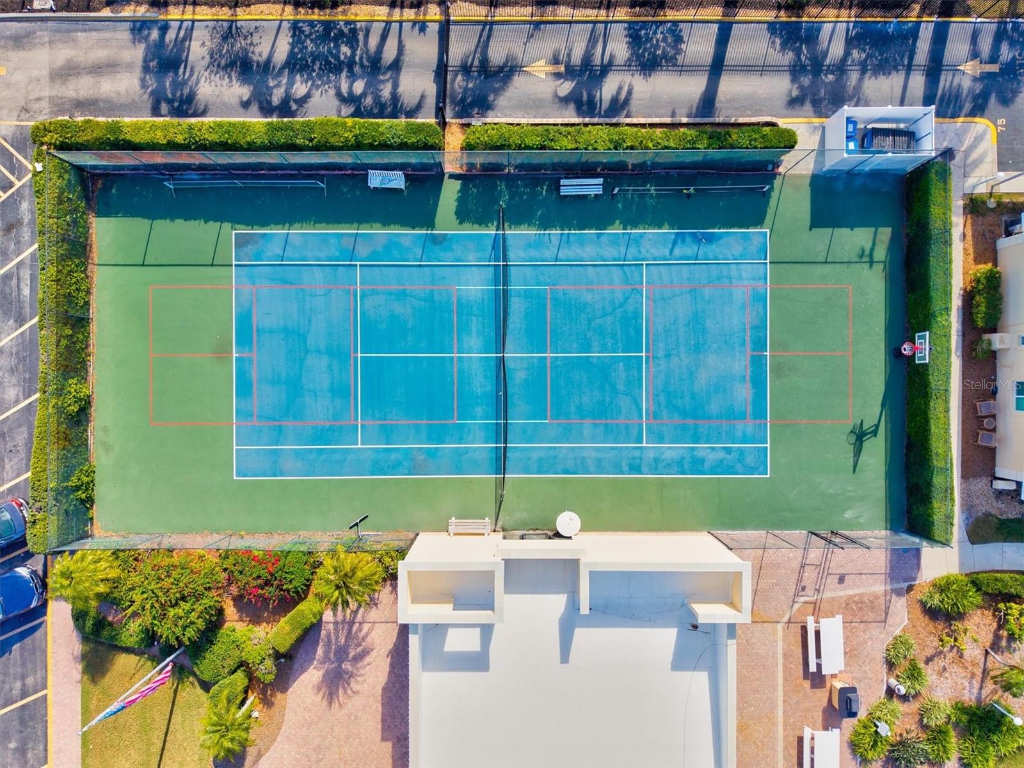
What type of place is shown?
sports ground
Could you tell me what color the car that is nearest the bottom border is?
blue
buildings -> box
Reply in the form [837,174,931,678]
[983,234,1024,478]
[398,533,751,768]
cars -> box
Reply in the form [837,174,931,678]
[0,500,33,550]
[0,568,52,626]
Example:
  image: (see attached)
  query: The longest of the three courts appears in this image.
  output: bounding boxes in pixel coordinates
[95,173,906,531]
